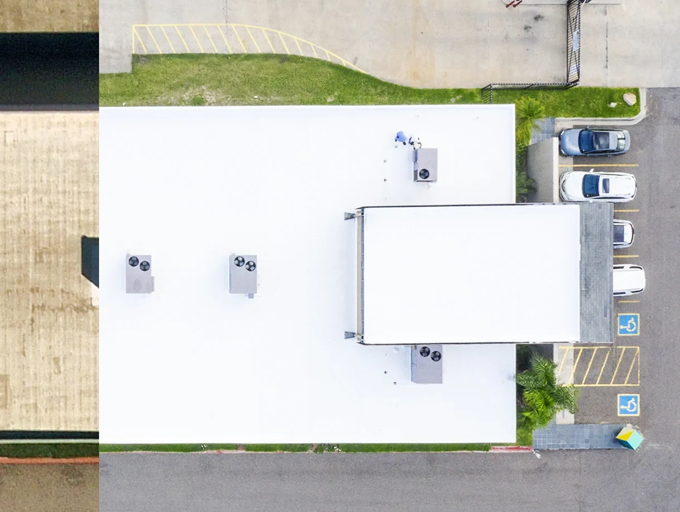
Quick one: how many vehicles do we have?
4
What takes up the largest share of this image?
buildings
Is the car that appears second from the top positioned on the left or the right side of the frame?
right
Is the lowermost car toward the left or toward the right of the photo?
right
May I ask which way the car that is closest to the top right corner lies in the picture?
horizontally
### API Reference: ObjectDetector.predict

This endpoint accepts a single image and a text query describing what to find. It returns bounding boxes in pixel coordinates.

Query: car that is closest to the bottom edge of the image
[612,264,647,295]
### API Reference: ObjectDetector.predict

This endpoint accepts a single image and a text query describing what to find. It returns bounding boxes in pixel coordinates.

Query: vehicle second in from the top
[560,168,637,203]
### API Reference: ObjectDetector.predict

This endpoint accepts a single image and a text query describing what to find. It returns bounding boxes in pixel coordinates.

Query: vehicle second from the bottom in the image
[612,219,635,248]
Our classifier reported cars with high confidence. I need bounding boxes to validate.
[560,124,631,158]
[612,264,647,295]
[612,219,635,248]
[560,168,637,203]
